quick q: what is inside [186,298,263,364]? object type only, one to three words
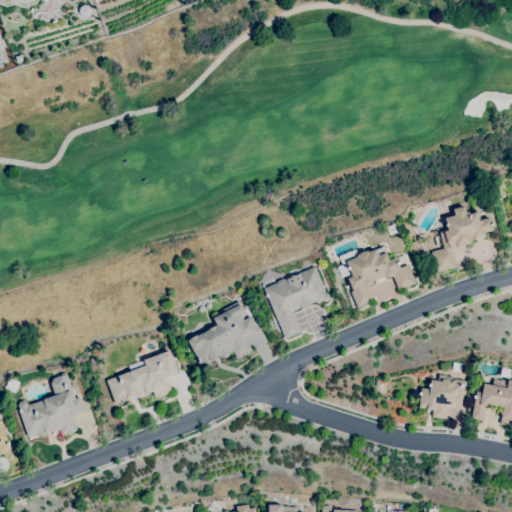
house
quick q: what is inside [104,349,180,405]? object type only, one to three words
house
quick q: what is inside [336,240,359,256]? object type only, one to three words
swimming pool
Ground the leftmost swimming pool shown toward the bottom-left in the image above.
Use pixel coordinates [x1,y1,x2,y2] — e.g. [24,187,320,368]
[26,385,48,400]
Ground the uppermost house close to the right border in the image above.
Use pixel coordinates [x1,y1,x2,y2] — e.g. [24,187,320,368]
[432,204,499,274]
